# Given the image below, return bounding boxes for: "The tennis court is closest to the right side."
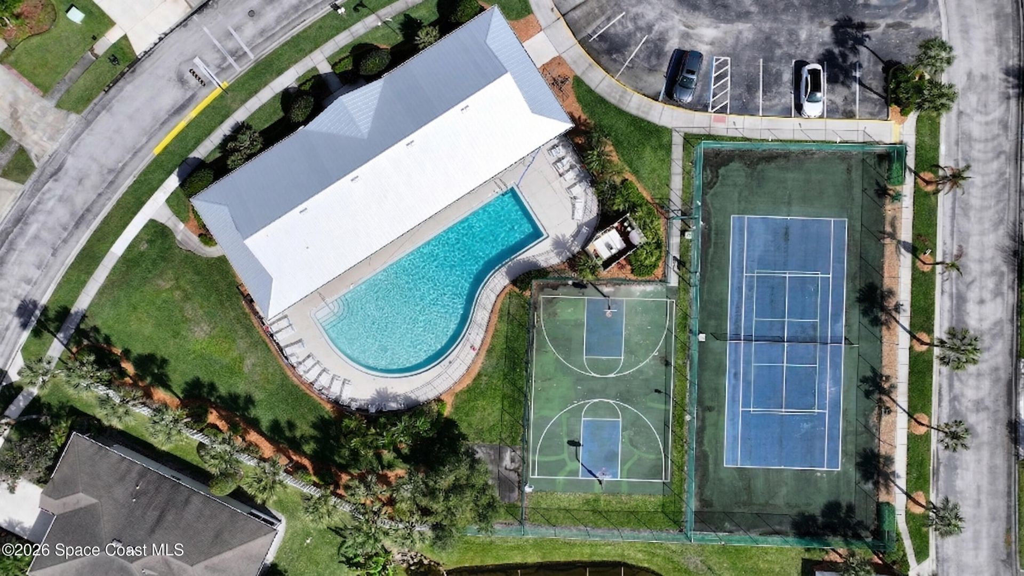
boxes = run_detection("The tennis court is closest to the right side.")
[690,151,886,537]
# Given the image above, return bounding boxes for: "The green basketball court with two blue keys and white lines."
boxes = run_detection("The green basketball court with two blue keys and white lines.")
[526,282,677,497]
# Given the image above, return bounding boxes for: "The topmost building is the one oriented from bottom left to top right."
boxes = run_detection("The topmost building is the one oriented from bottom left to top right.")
[190,5,574,322]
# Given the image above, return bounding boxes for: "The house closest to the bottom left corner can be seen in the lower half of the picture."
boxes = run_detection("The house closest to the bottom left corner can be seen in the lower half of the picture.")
[27,431,283,576]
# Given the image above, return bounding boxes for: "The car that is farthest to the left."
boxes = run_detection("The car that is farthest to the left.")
[671,48,702,104]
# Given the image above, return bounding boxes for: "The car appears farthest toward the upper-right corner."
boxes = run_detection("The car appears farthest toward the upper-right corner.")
[799,64,826,118]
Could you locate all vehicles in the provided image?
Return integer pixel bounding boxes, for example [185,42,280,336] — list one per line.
[799,64,826,118]
[671,48,702,104]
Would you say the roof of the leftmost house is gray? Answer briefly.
Yes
